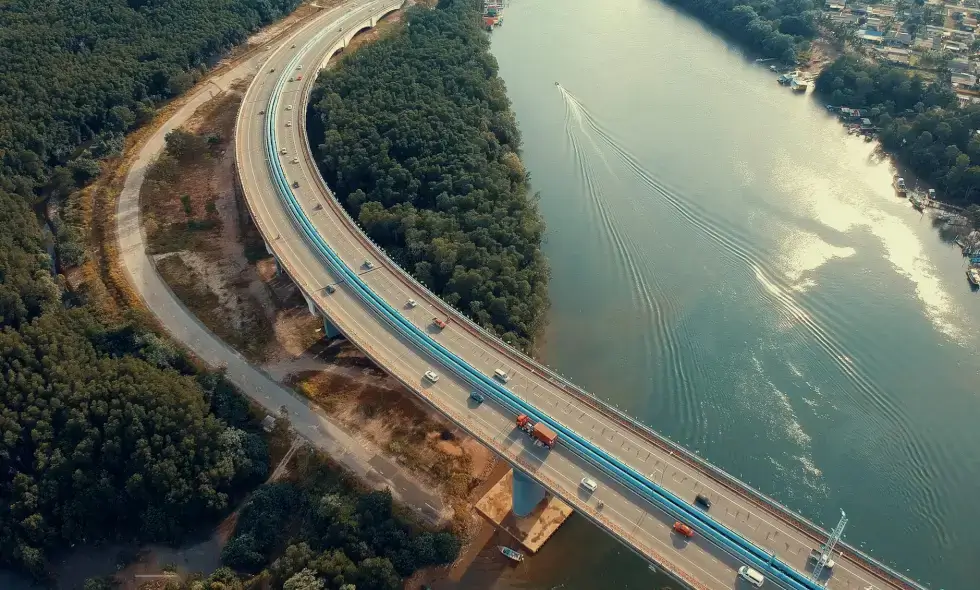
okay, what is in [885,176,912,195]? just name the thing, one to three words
boat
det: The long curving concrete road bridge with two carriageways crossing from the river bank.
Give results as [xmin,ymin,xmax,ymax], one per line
[236,0,924,590]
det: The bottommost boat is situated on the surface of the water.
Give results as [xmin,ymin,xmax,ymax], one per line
[499,546,526,560]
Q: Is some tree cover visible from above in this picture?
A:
Yes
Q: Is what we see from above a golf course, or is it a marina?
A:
marina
